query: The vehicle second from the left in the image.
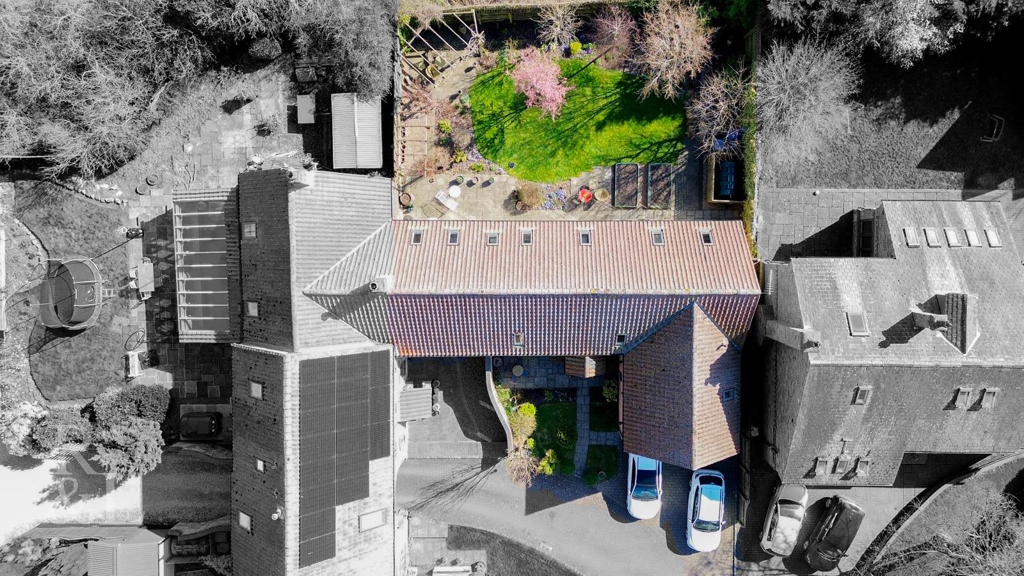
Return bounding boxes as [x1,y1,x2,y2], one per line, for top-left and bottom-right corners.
[685,468,726,550]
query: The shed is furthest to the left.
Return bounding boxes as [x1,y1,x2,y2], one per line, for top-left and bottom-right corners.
[88,525,185,576]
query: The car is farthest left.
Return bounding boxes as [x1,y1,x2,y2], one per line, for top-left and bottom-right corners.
[626,452,666,518]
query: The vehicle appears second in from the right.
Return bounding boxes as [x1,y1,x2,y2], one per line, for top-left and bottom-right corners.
[759,482,809,560]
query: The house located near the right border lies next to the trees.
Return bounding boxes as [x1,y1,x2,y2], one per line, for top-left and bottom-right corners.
[747,200,1024,486]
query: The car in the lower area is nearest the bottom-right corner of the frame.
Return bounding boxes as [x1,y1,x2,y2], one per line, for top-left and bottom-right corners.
[804,491,865,571]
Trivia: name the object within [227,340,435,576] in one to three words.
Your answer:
house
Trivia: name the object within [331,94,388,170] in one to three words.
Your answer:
shed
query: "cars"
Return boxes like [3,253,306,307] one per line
[626,452,666,518]
[804,491,865,571]
[685,468,726,550]
[759,482,809,560]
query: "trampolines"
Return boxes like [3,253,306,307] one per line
[30,255,121,336]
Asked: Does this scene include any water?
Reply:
No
